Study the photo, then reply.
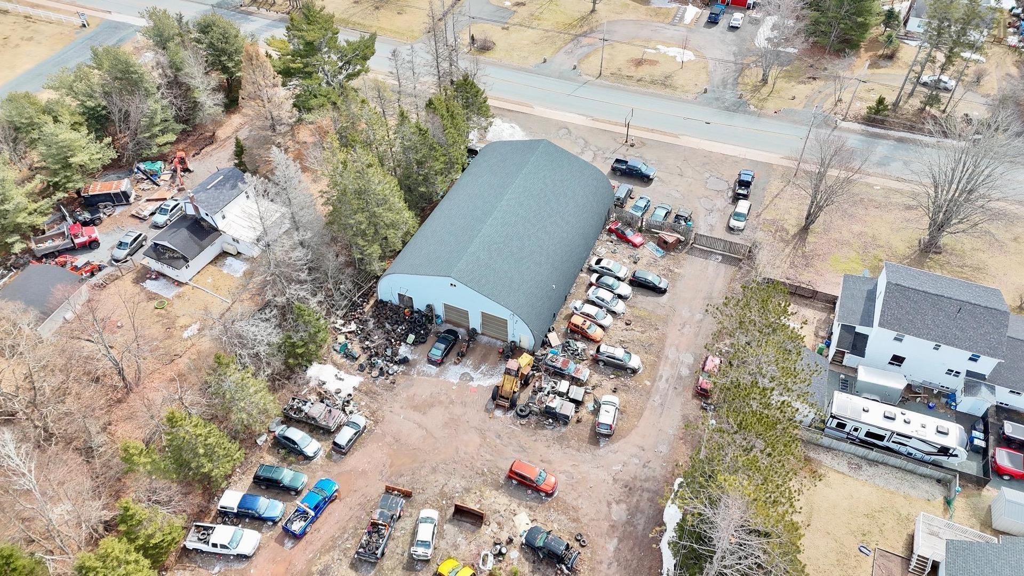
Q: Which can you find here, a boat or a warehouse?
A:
warehouse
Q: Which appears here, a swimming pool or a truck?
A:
truck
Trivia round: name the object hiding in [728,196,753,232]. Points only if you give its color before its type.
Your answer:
white car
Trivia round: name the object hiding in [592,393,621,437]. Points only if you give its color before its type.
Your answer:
white car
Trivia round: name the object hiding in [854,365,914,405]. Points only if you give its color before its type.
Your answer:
white trailer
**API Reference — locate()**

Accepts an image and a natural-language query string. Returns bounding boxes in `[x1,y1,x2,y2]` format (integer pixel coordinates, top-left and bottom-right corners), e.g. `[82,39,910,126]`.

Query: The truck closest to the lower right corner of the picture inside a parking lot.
[992,450,1024,479]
